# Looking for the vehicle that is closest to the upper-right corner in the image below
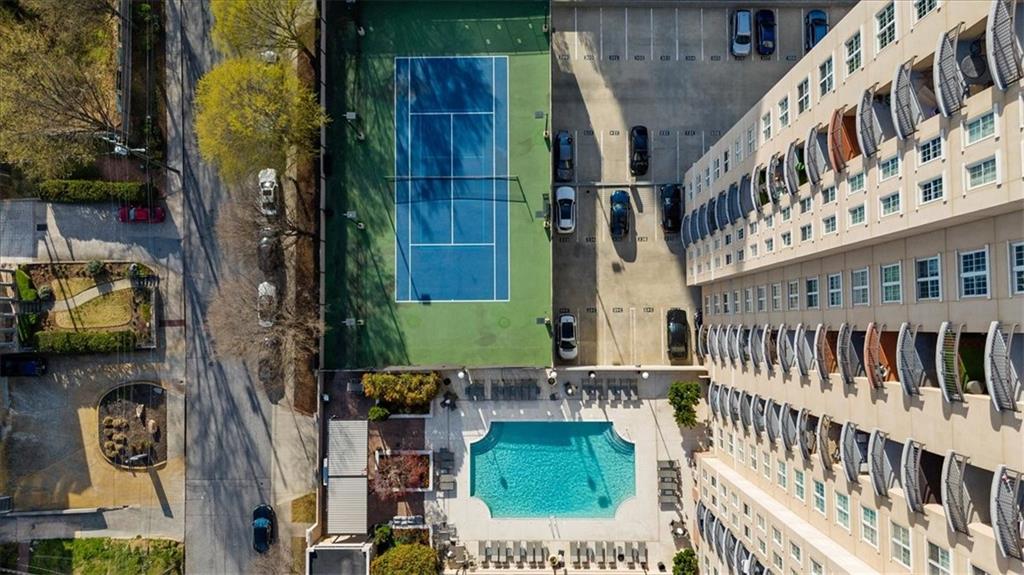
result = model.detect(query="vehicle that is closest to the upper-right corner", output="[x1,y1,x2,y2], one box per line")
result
[805,8,830,51]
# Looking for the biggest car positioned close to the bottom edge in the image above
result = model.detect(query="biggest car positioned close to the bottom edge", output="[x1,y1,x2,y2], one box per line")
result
[249,501,275,555]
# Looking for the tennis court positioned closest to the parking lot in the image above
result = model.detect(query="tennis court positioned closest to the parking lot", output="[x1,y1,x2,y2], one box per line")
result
[337,0,551,367]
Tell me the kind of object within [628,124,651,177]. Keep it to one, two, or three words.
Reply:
car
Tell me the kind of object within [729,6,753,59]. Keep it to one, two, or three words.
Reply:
car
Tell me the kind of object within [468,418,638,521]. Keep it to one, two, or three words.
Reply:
swimming pool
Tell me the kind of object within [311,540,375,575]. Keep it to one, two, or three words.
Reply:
building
